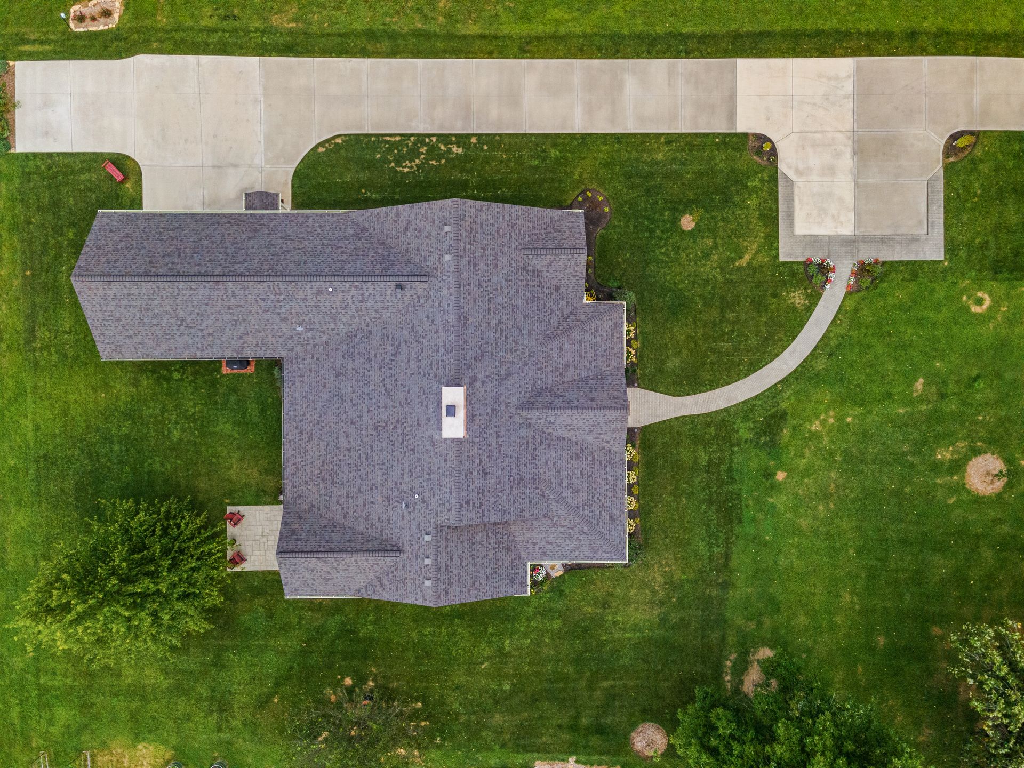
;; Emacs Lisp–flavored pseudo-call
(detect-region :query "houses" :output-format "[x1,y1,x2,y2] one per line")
[71,191,628,607]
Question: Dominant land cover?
grass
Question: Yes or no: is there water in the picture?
No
